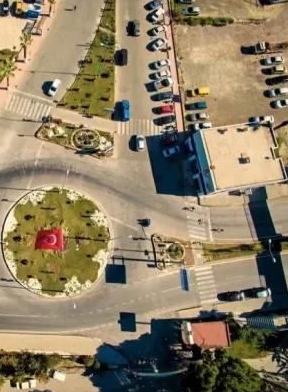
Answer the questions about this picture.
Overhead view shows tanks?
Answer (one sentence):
No, the photo shows no tank.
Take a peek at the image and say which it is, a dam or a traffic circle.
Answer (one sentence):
The image shows a traffic circle.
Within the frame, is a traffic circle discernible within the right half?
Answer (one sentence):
No, looking within the right half, there is no traffic circle.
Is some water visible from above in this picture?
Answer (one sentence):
No, the scene doesn't show any water.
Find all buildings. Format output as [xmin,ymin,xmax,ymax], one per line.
[182,122,288,195]
[181,317,231,346]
